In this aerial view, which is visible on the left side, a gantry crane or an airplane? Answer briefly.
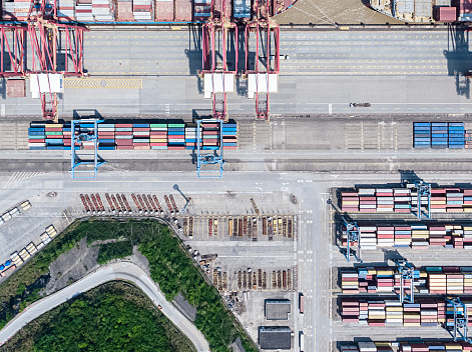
gantry crane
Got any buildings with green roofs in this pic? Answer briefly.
No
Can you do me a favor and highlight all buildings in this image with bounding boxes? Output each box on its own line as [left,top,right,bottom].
[260,323,294,350]
[266,297,290,320]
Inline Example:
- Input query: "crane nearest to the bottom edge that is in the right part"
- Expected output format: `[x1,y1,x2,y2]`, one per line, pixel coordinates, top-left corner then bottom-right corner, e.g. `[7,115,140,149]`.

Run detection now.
[439,293,467,341]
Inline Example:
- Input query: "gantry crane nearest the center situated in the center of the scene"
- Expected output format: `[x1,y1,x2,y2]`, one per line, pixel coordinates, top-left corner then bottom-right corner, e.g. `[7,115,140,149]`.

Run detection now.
[197,117,226,178]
